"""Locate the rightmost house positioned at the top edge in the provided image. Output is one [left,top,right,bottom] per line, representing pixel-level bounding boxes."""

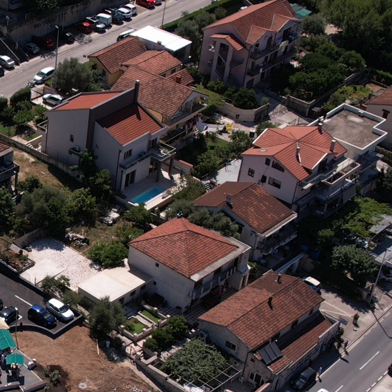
[198,0,302,86]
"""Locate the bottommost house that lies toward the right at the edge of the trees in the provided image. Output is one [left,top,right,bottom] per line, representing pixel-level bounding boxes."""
[200,270,341,392]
